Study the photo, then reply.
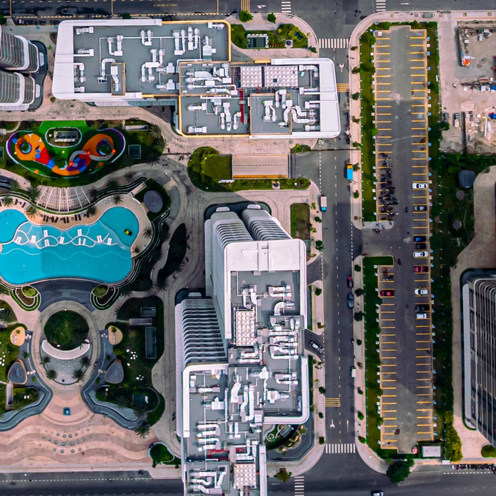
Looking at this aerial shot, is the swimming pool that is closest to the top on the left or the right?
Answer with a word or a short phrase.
left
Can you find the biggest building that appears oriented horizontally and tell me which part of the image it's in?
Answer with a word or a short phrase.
top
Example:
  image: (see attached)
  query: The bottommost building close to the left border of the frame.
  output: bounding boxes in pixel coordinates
[7,360,28,386]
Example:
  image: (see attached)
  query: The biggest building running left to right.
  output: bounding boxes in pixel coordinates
[53,19,340,140]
